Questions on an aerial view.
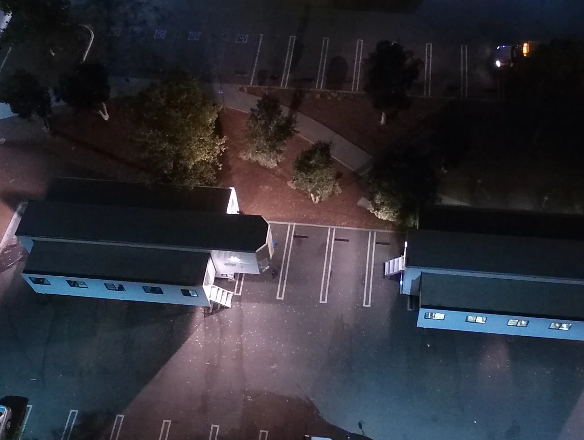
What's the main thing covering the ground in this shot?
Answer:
paved ground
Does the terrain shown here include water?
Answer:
No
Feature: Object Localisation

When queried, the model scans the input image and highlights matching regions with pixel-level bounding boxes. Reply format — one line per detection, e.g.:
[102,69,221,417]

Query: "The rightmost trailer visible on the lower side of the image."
[403,203,584,339]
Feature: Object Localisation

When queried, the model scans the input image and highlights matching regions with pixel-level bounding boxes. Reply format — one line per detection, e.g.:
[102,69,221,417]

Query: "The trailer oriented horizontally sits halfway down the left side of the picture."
[19,177,275,308]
